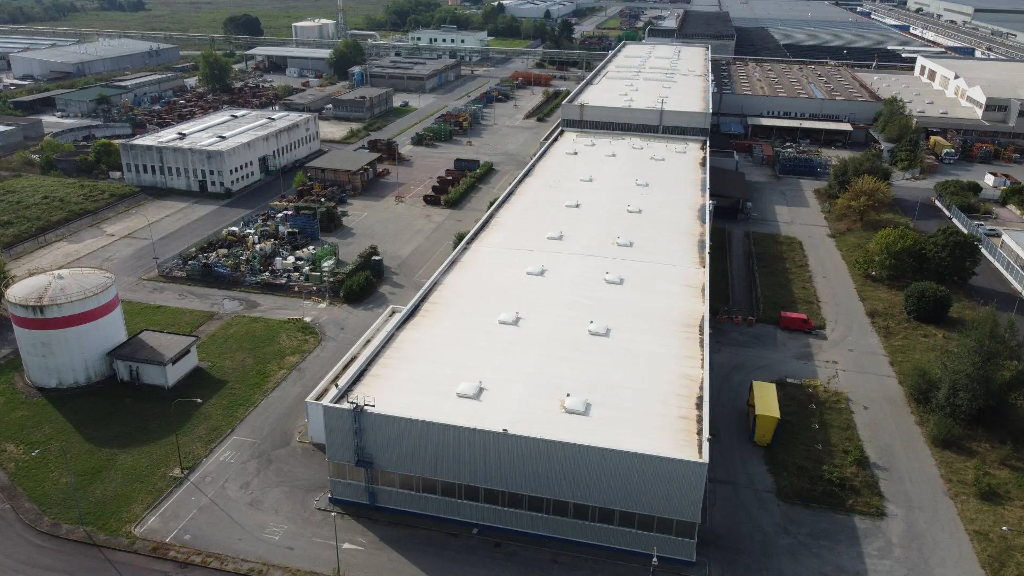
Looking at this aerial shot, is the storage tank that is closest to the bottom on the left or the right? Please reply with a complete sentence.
The storage tank that is closest to the bottom appears in the left half of the scene.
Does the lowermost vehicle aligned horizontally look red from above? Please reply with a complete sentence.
Yes, the lowermost vehicle aligned horizontally appears red.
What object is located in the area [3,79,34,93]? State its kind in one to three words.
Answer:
shed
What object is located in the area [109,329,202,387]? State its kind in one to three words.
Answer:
building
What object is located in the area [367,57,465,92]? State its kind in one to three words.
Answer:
building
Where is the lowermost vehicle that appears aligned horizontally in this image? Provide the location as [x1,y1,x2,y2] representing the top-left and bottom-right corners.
[780,312,818,332]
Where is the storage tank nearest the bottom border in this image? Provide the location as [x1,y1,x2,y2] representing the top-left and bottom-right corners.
[0,260,130,395]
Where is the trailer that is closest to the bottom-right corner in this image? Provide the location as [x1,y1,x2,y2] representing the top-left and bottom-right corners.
[750,381,781,440]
